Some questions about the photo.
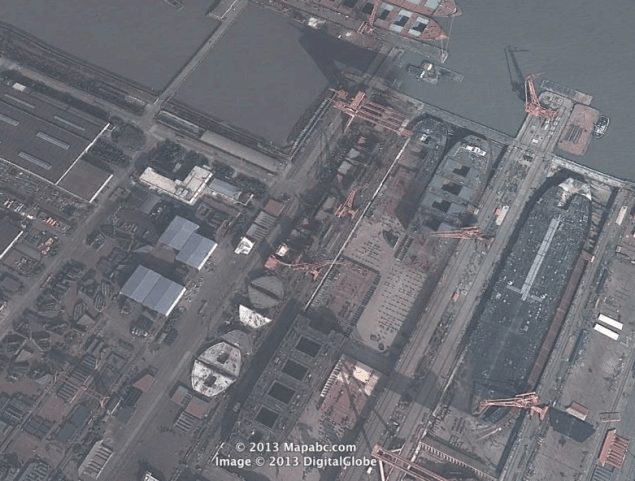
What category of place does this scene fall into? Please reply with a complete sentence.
It's a port.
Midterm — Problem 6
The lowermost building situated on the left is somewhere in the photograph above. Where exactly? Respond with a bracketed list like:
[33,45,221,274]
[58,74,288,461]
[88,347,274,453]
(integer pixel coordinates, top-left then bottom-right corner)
[119,263,191,319]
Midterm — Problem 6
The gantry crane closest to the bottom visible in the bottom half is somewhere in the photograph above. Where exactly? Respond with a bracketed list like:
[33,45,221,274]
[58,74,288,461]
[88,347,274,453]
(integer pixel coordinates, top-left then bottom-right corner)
[368,441,456,481]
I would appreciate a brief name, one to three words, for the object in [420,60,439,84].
vessel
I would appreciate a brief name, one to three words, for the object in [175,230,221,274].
building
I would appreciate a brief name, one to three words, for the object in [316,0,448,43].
ship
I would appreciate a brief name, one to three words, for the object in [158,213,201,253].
building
